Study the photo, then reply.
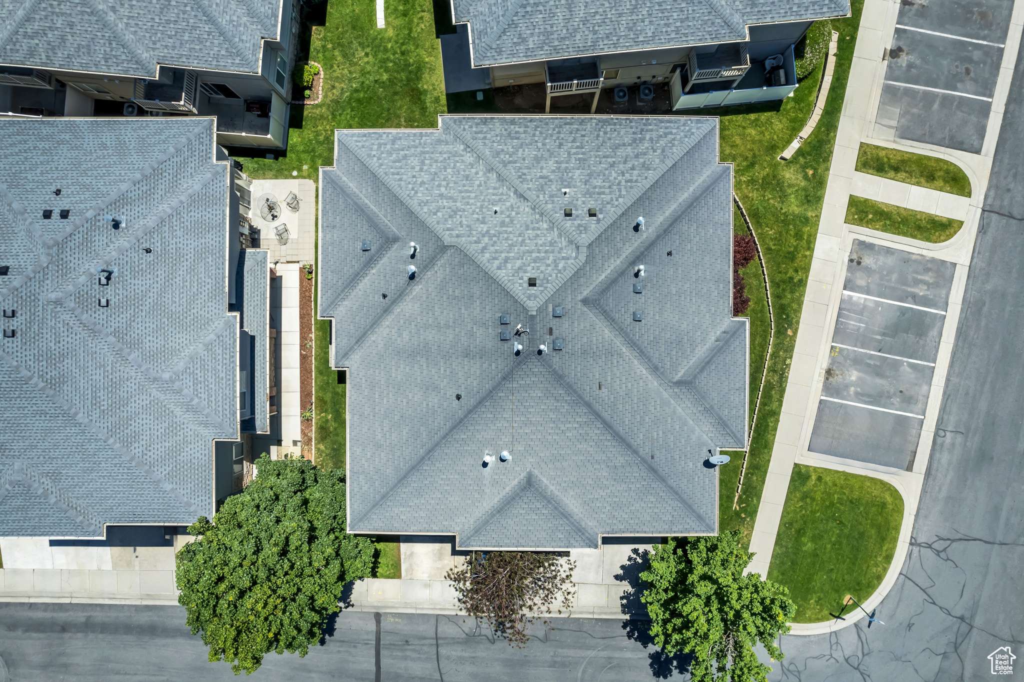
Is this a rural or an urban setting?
urban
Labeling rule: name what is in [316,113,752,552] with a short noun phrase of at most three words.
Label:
house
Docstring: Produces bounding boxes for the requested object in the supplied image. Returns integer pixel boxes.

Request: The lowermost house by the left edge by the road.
[0,115,283,541]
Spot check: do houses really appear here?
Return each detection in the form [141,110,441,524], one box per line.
[316,113,752,552]
[447,0,853,113]
[0,115,283,541]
